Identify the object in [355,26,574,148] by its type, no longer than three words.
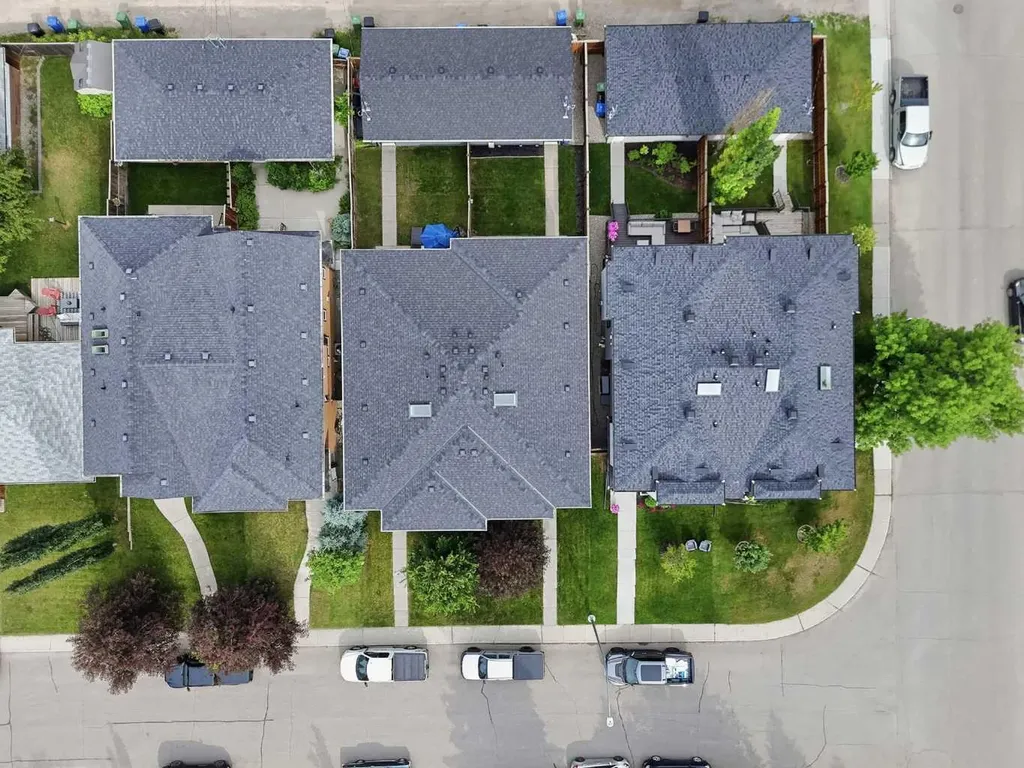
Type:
building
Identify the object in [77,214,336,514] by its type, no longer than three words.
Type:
house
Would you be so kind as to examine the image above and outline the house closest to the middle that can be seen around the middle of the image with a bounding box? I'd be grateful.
[339,235,592,532]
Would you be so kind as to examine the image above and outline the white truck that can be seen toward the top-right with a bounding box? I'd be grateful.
[892,76,938,169]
